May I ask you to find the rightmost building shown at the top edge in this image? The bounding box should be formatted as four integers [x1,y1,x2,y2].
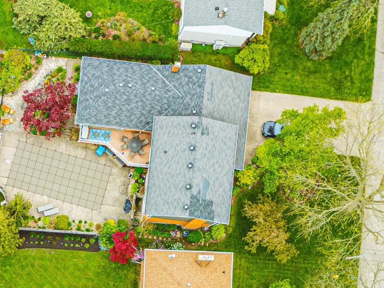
[178,0,267,45]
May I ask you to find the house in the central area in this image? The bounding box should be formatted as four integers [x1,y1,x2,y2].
[75,51,253,235]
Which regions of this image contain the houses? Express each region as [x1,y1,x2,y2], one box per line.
[138,249,234,288]
[75,51,253,235]
[178,0,267,45]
